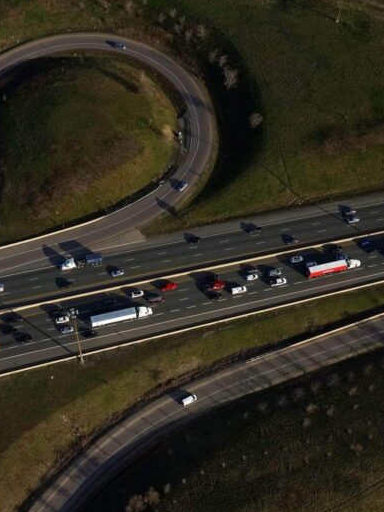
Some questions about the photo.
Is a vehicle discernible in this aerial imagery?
Yes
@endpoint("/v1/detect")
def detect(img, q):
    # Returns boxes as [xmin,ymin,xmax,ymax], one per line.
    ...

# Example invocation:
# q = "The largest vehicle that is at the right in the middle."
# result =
[306,260,361,279]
